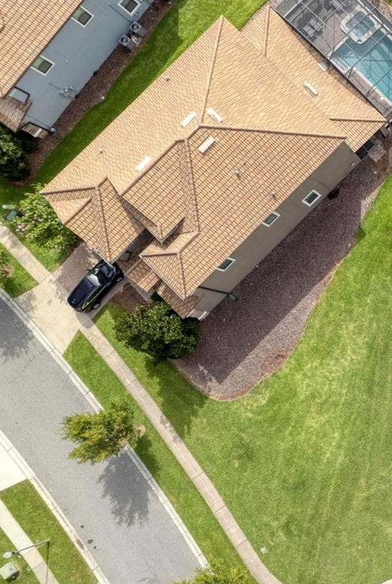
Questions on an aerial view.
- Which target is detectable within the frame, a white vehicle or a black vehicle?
black vehicle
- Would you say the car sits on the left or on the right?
left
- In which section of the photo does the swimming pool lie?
top right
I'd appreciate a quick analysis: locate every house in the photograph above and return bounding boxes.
[0,0,147,132]
[40,5,388,327]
